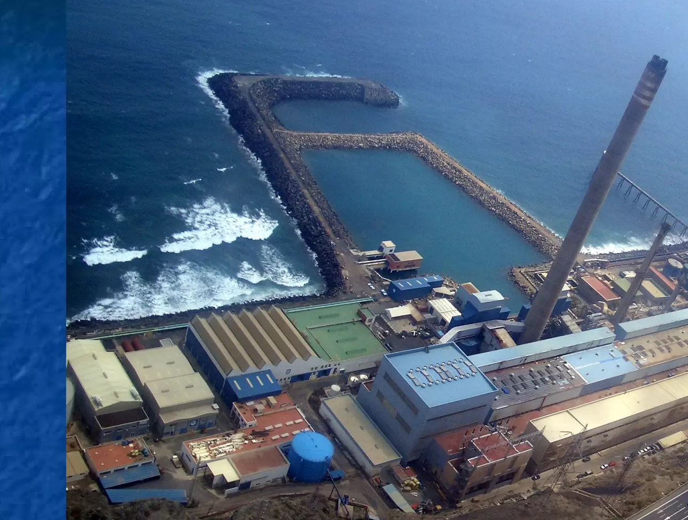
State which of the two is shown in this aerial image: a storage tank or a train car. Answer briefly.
storage tank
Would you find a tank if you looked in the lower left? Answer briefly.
Yes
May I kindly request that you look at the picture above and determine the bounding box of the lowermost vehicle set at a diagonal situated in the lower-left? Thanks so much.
[169,453,183,469]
